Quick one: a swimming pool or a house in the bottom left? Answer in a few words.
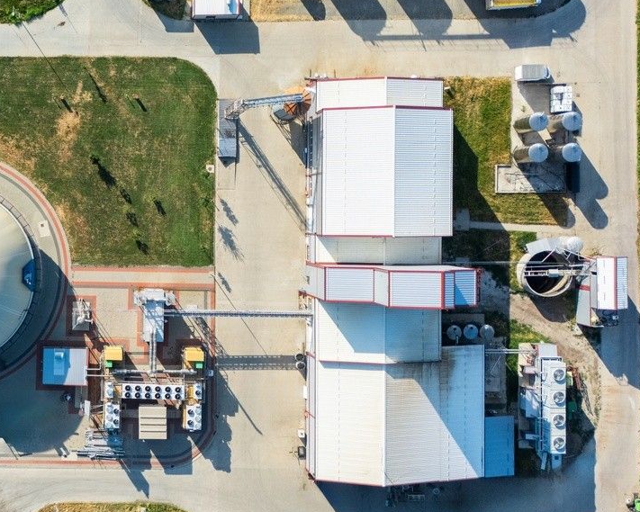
house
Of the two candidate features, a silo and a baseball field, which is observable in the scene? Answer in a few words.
silo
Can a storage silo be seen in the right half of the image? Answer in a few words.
Yes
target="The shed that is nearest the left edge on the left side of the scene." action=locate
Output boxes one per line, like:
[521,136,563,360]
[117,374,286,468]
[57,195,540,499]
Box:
[44,347,89,386]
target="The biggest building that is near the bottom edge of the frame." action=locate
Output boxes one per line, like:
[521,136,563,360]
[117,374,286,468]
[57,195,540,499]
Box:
[307,342,485,491]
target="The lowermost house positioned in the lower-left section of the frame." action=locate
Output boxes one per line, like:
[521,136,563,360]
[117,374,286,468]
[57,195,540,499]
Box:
[138,402,166,439]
